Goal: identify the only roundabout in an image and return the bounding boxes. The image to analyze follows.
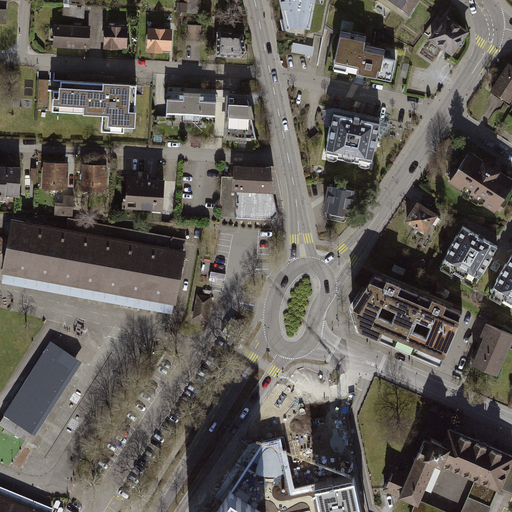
[258,252,342,365]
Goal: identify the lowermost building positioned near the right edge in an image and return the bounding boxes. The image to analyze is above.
[402,430,512,512]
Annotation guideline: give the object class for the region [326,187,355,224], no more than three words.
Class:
house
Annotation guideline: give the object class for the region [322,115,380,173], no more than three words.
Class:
building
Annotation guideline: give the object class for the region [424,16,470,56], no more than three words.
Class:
house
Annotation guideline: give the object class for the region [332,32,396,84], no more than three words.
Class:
building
